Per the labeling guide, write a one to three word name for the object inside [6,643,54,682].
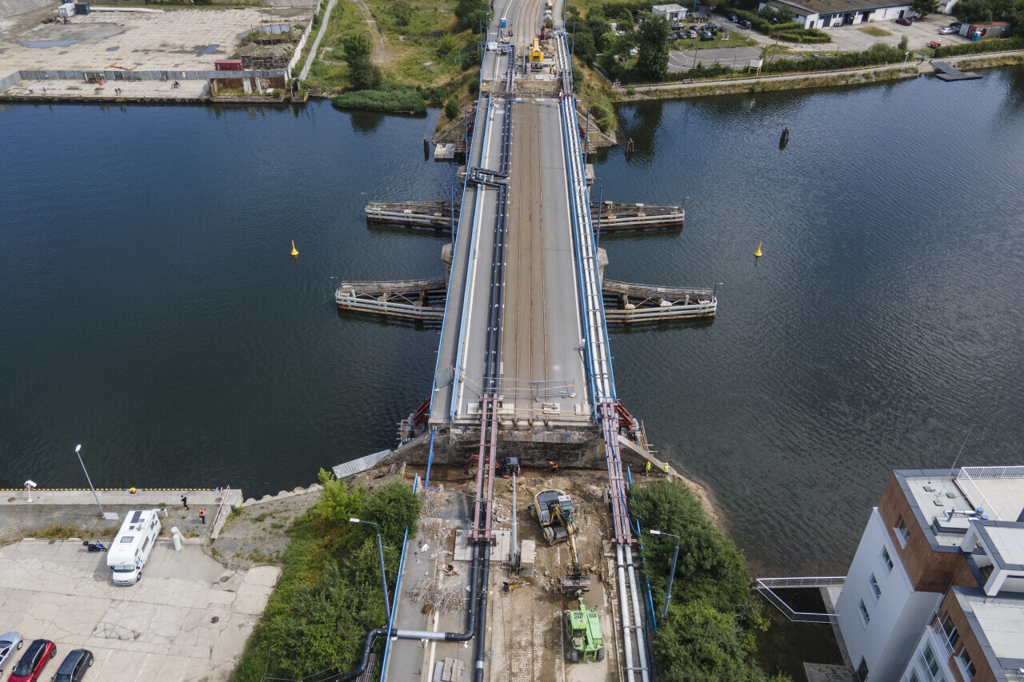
car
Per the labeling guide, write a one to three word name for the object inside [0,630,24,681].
car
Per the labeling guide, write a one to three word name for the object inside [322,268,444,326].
pier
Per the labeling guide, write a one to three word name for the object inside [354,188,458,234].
pier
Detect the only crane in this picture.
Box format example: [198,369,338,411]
[521,36,553,70]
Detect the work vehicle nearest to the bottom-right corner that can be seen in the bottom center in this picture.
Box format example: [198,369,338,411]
[556,587,605,663]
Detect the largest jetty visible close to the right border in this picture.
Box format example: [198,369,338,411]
[933,61,982,83]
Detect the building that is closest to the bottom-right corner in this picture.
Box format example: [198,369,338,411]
[835,442,1024,682]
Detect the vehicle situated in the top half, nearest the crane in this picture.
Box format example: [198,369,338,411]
[541,22,554,45]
